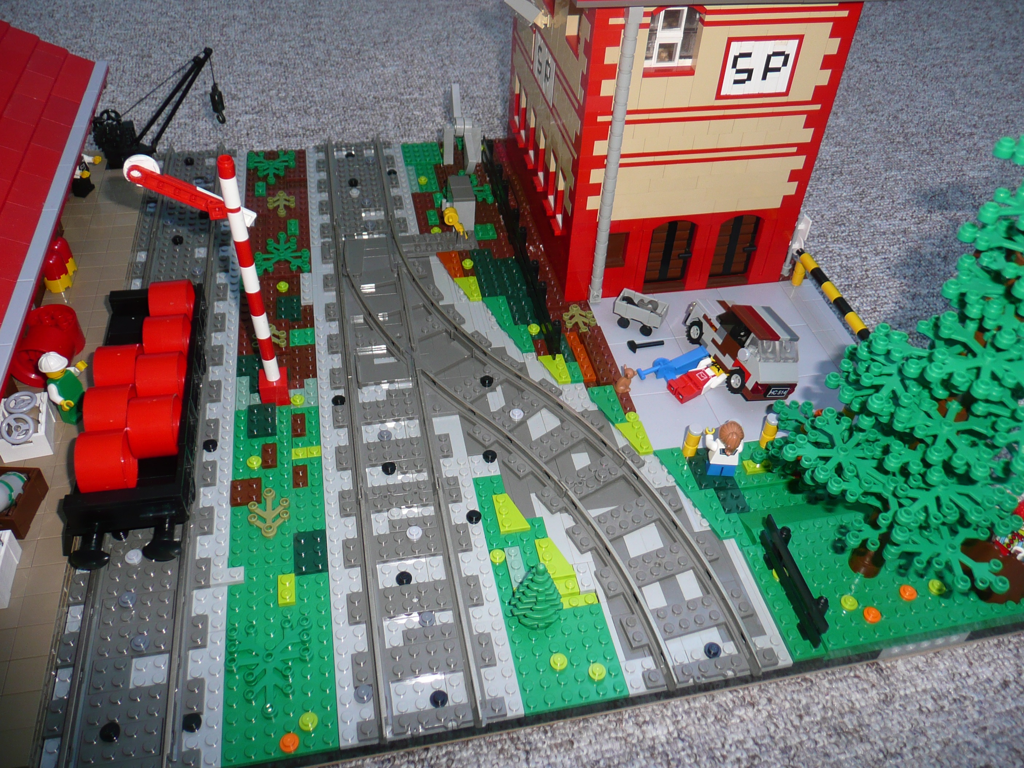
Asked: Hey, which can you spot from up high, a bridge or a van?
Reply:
van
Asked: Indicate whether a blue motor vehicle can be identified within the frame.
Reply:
No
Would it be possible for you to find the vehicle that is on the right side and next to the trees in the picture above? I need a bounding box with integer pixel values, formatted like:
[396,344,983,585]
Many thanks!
[684,300,794,408]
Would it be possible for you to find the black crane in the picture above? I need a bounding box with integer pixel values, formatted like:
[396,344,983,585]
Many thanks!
[93,45,231,172]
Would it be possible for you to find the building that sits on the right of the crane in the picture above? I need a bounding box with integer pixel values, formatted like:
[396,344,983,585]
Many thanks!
[502,0,912,299]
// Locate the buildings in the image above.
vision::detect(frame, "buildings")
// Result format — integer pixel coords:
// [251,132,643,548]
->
[0,23,111,429]
[502,0,912,299]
